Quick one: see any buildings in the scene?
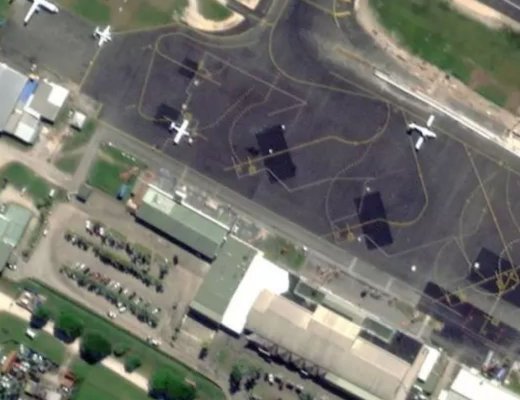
Yes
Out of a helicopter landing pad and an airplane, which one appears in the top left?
airplane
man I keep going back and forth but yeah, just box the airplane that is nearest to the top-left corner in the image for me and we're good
[21,0,57,22]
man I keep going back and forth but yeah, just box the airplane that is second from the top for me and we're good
[94,25,111,46]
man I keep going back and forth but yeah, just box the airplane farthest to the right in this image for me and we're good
[409,115,437,150]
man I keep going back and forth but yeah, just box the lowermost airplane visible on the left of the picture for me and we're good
[169,119,190,143]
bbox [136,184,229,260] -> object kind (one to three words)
hangar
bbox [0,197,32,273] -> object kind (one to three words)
building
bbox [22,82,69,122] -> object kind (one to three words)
building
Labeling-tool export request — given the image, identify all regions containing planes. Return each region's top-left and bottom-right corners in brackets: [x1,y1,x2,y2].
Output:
[409,115,437,150]
[169,119,190,143]
[21,0,57,22]
[94,25,111,46]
